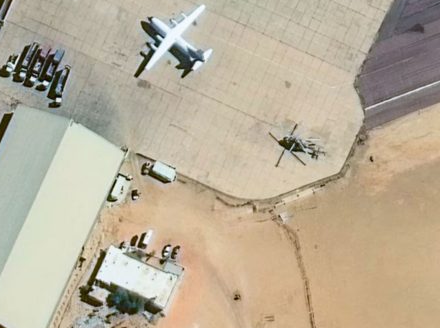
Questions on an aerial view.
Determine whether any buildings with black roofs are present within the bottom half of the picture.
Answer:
No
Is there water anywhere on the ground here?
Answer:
No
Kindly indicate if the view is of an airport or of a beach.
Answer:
airport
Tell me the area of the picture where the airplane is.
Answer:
top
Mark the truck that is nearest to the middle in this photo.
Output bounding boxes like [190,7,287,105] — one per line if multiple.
[143,161,177,185]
